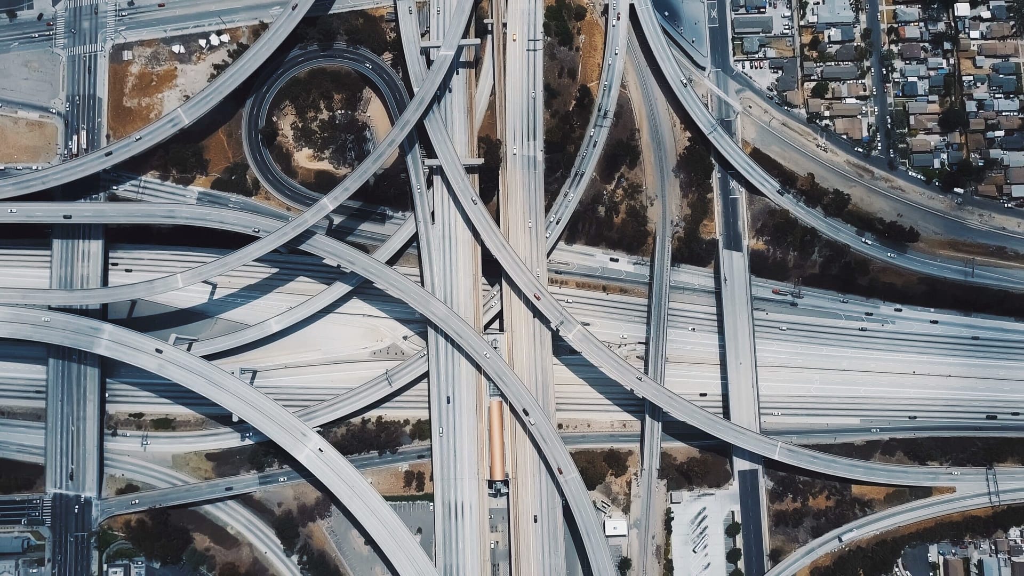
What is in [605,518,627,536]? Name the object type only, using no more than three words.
house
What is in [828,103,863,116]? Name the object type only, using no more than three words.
house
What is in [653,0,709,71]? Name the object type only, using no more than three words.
building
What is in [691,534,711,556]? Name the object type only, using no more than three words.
bus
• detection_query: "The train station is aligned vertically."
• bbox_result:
[482,333,510,482]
